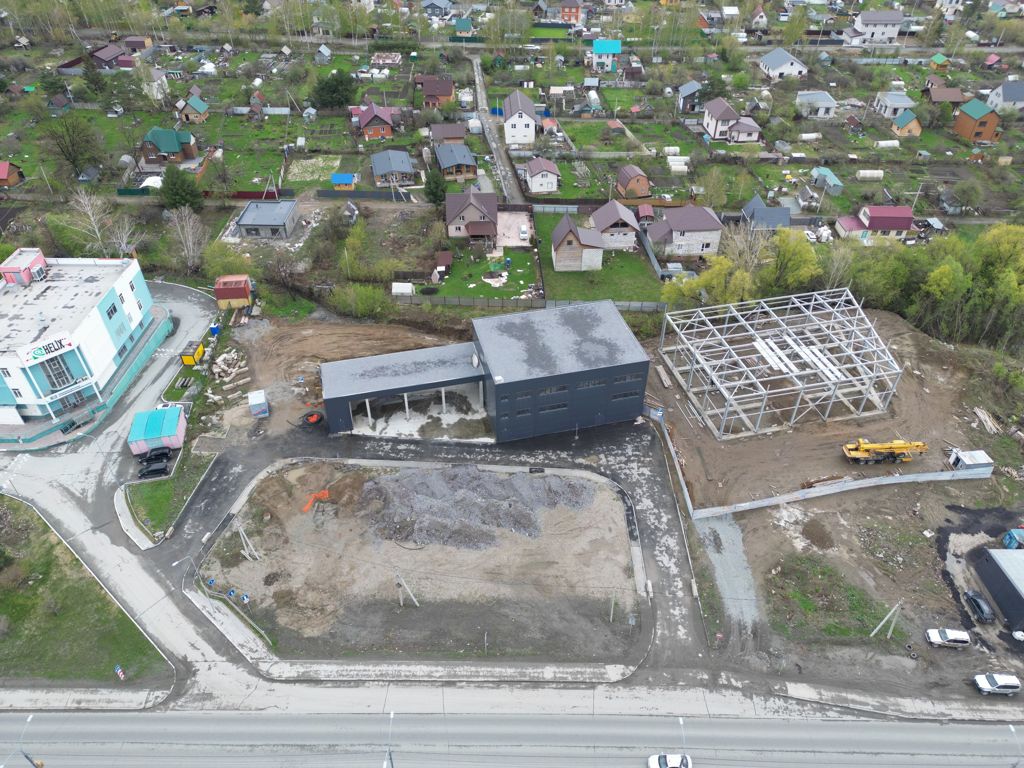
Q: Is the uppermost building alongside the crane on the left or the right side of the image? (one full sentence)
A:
It is on the right.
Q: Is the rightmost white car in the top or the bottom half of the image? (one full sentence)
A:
Seen from above, the rightmost white car lies in the bottom half of the view.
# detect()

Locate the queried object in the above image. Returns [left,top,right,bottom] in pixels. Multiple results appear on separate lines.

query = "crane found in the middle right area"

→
[843,436,934,465]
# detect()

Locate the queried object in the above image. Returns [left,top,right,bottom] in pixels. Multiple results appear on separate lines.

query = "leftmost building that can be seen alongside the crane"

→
[657,285,904,440]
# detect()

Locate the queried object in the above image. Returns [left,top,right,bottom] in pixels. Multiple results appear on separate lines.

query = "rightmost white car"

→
[972,671,1024,698]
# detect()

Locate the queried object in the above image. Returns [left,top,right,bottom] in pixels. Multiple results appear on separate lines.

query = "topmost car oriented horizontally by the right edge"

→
[925,627,979,652]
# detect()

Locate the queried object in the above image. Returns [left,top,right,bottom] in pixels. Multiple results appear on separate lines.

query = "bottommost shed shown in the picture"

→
[960,543,1024,662]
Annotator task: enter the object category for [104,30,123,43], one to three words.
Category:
vehicle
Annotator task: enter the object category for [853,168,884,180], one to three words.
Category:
greenhouse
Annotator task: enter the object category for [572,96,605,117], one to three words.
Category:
shed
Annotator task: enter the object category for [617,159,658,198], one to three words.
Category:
house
